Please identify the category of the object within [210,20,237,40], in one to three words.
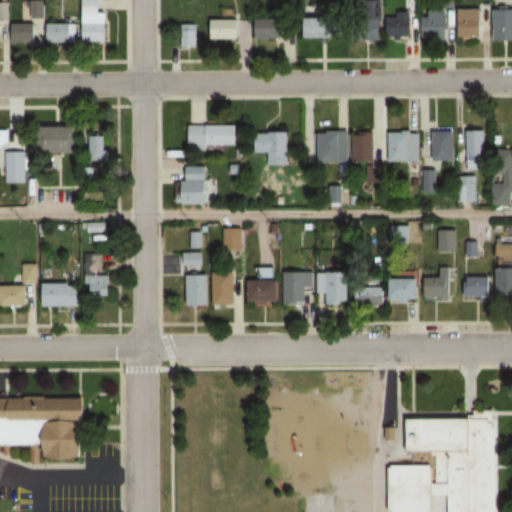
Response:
house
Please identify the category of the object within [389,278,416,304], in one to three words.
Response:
house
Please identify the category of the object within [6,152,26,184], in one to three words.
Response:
building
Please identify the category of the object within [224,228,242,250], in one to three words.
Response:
building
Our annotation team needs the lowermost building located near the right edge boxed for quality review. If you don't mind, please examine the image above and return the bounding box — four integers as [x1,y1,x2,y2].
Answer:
[388,418,498,512]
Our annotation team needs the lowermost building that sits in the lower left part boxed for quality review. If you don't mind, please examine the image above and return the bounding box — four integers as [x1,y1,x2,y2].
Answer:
[0,396,80,463]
